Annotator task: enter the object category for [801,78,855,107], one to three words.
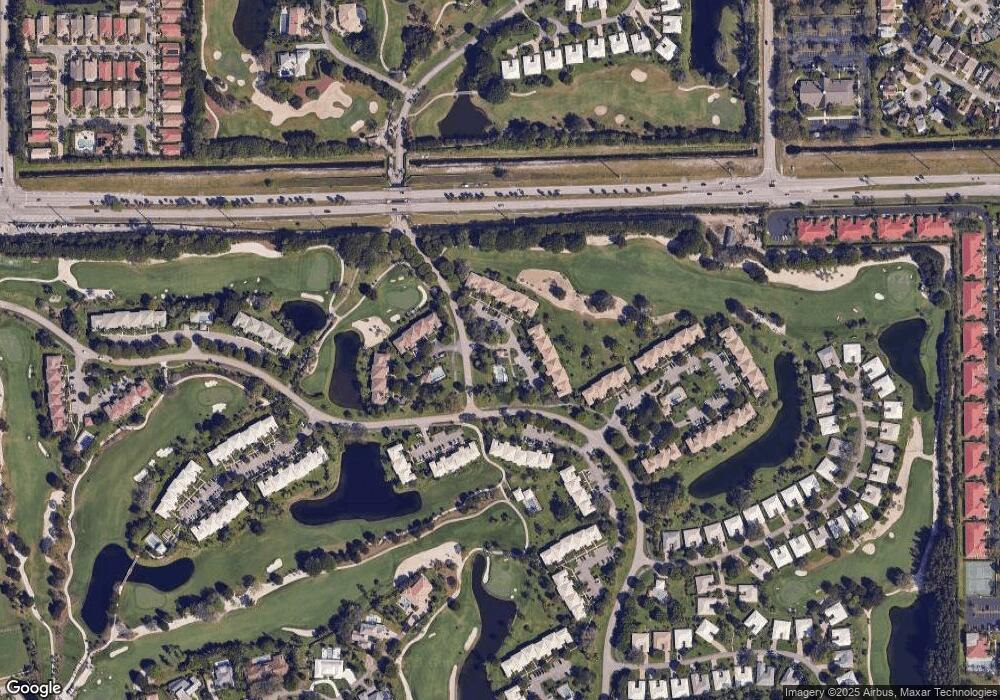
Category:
building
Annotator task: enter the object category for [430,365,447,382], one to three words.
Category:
swimming pool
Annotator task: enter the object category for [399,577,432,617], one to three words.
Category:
house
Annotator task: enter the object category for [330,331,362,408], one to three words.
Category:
pond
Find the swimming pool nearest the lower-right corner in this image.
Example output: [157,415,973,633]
[966,658,992,672]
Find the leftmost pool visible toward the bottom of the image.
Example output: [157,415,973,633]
[76,431,96,451]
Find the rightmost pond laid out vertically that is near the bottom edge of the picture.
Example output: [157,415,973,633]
[888,594,936,700]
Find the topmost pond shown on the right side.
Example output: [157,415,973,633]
[688,0,739,75]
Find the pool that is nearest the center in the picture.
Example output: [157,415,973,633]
[493,365,509,383]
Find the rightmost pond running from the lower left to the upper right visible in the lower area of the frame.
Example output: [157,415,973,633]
[689,352,800,497]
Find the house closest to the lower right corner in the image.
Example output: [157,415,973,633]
[971,638,994,657]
